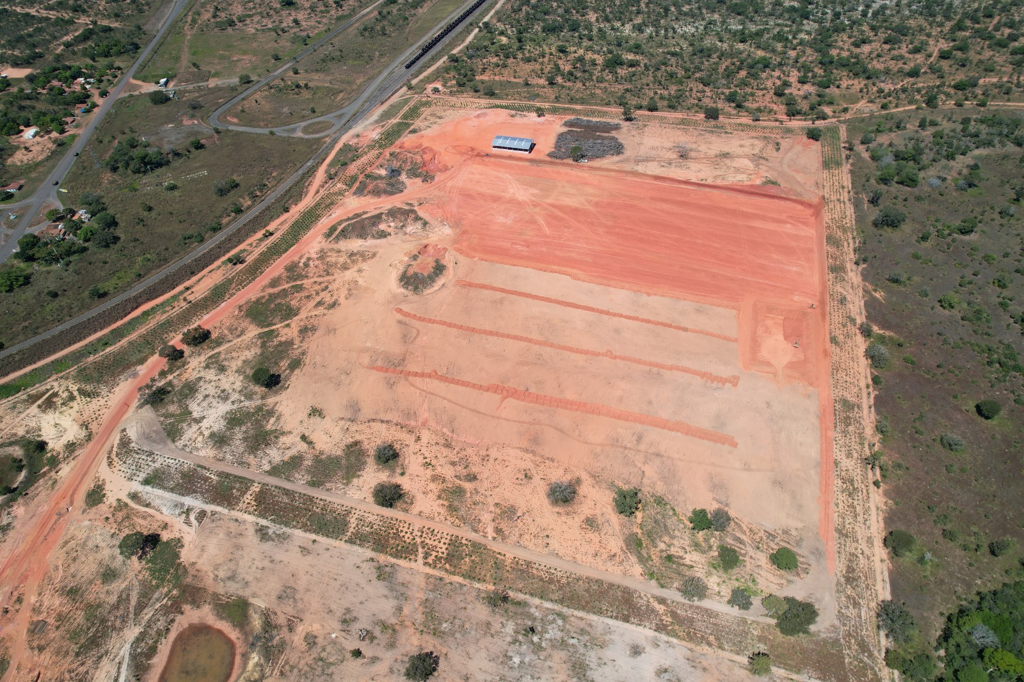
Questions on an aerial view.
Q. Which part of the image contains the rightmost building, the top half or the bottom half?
top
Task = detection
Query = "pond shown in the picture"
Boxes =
[159,624,235,682]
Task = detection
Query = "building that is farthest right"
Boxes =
[492,134,535,154]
